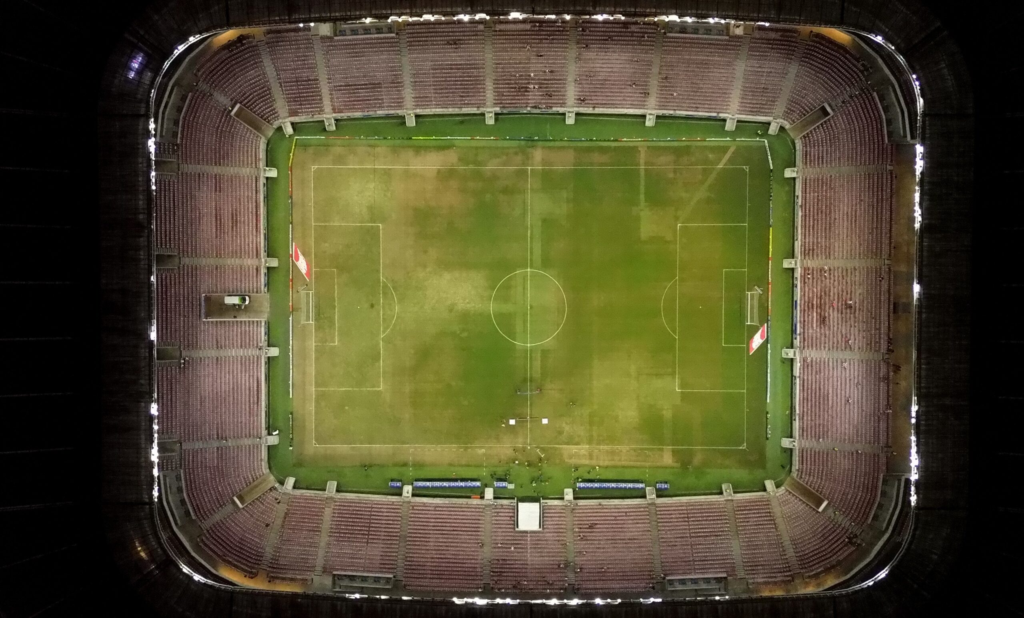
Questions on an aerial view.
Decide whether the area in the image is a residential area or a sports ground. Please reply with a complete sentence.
It's a sports ground.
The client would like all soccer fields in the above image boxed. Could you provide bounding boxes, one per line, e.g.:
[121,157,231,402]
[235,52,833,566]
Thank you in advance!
[292,145,769,480]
